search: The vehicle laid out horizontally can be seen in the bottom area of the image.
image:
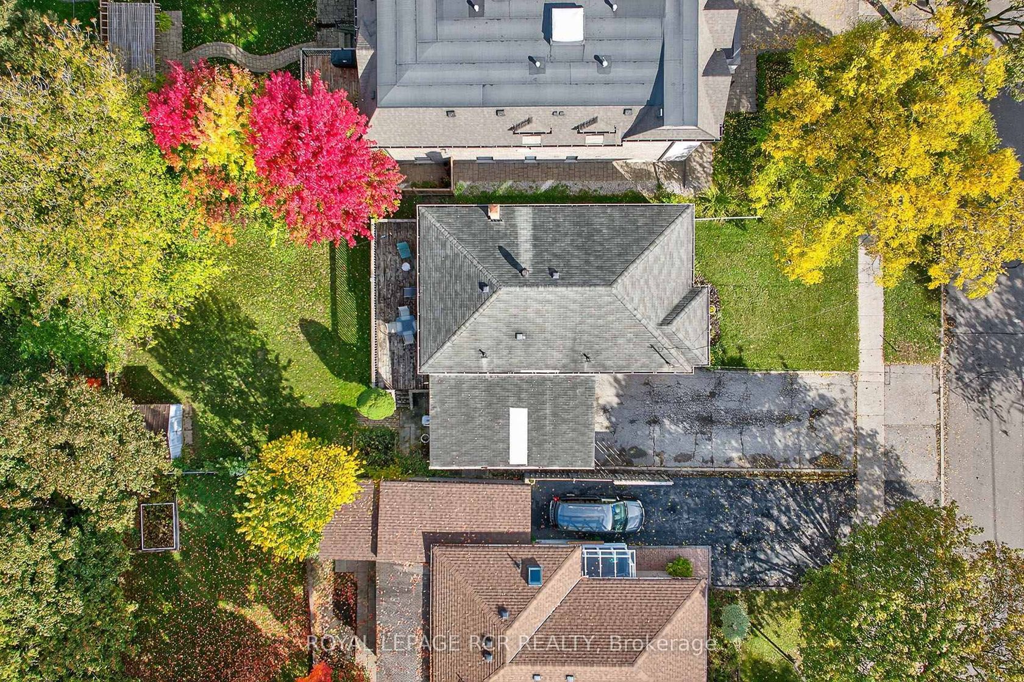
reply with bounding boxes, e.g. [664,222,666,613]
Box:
[550,494,642,538]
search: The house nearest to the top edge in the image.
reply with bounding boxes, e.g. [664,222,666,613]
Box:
[350,0,746,163]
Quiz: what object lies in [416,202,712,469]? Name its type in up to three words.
house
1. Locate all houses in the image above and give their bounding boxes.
[350,0,746,163]
[318,478,709,682]
[416,202,712,469]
